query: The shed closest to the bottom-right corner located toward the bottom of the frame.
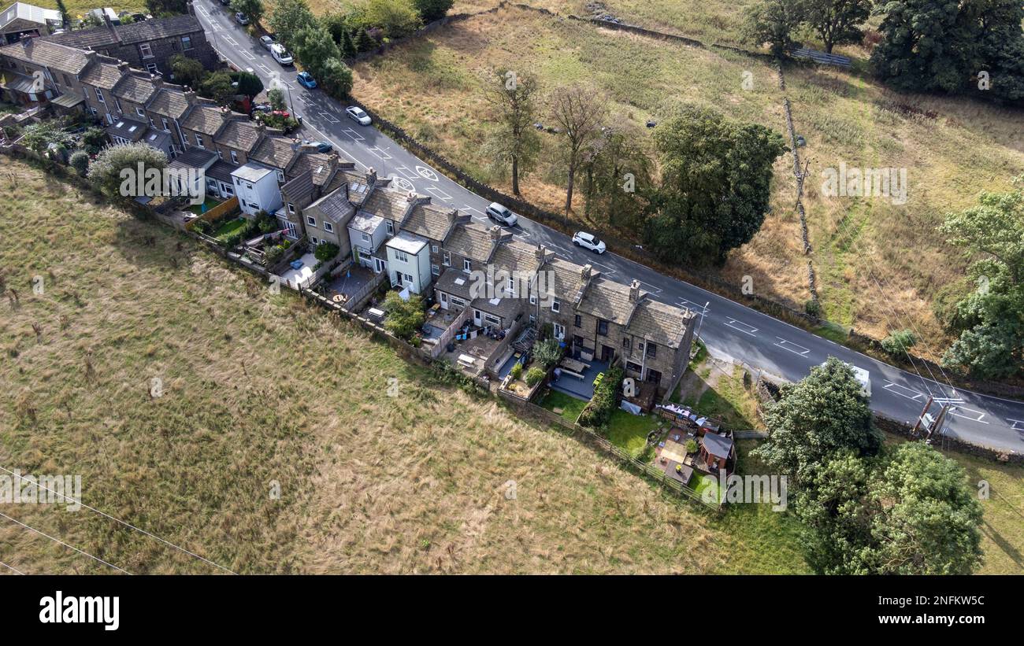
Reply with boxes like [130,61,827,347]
[699,427,736,469]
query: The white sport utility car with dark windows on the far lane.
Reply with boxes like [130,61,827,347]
[572,233,606,258]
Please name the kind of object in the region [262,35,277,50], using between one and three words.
car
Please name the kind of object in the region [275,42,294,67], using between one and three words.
vehicle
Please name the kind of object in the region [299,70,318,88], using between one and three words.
car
